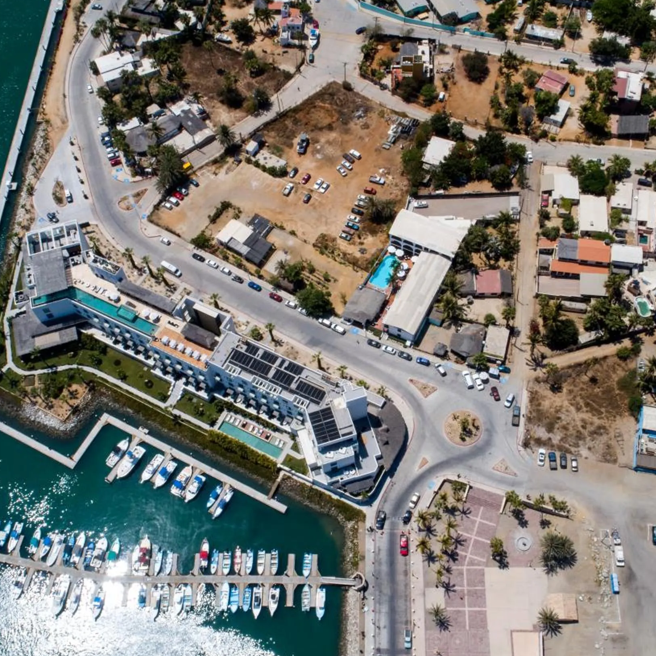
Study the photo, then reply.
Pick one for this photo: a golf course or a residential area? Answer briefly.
residential area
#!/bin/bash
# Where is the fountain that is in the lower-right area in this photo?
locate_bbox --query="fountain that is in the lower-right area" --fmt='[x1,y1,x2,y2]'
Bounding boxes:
[514,534,533,553]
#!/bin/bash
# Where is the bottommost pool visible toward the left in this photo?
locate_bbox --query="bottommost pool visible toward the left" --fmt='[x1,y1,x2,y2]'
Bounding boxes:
[217,419,284,460]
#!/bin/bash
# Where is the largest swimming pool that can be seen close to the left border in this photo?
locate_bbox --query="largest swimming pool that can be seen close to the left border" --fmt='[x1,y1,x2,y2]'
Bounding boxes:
[32,288,160,336]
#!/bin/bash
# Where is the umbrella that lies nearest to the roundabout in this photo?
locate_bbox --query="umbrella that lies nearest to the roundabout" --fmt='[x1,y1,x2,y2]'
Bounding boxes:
[477,370,491,383]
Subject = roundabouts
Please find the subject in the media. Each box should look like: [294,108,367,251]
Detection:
[444,409,483,446]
